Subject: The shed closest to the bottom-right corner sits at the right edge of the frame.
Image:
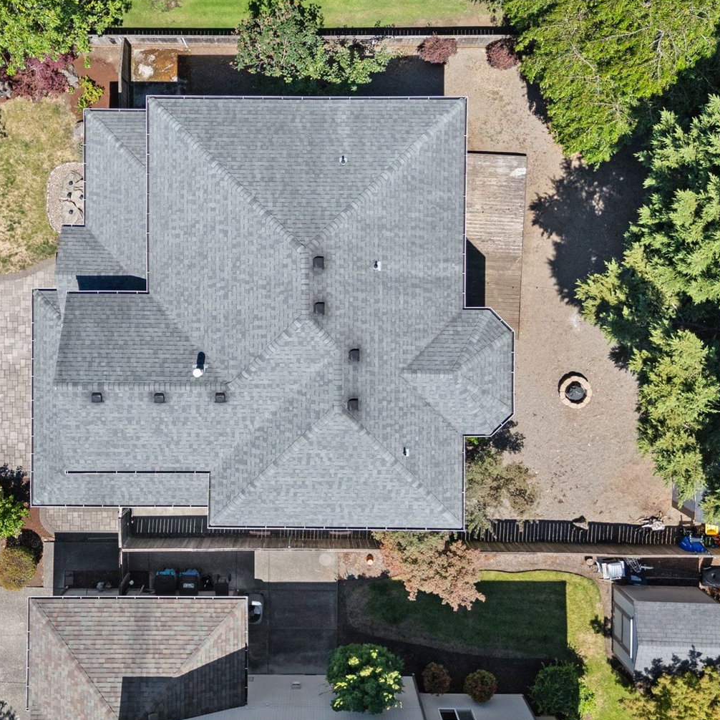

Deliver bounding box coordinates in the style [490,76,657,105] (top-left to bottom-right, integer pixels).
[612,586,720,675]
